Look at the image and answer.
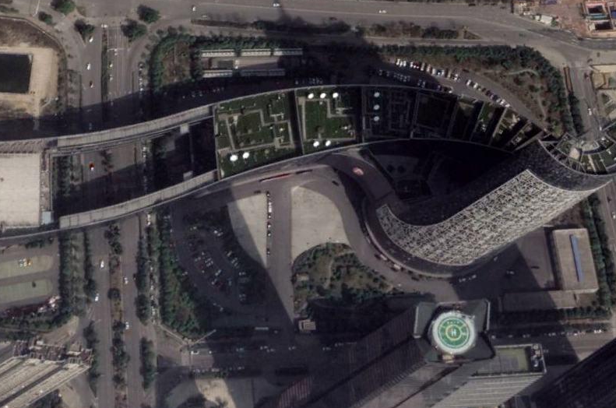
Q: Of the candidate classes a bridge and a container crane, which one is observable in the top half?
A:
bridge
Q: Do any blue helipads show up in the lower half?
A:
No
